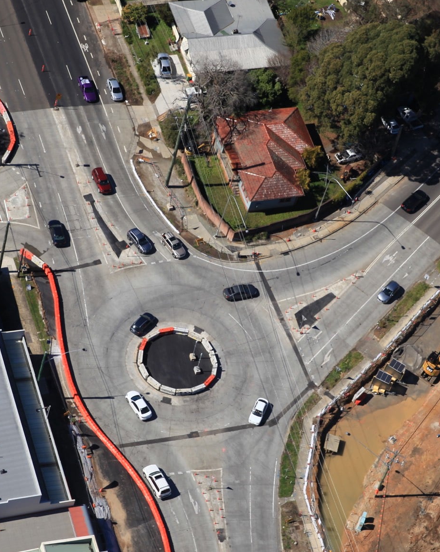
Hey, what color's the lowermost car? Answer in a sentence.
The lowermost car looks white in the image.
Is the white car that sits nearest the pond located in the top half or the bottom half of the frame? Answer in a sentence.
The white car that sits nearest the pond is in the bottom half of the image.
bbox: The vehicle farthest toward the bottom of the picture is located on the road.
[143,464,174,502]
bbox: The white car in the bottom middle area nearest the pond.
[245,395,272,431]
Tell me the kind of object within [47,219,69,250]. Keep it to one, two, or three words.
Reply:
car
